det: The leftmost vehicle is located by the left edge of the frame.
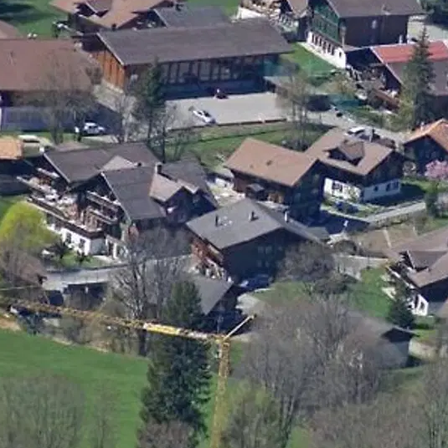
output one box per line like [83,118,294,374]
[21,133,47,146]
